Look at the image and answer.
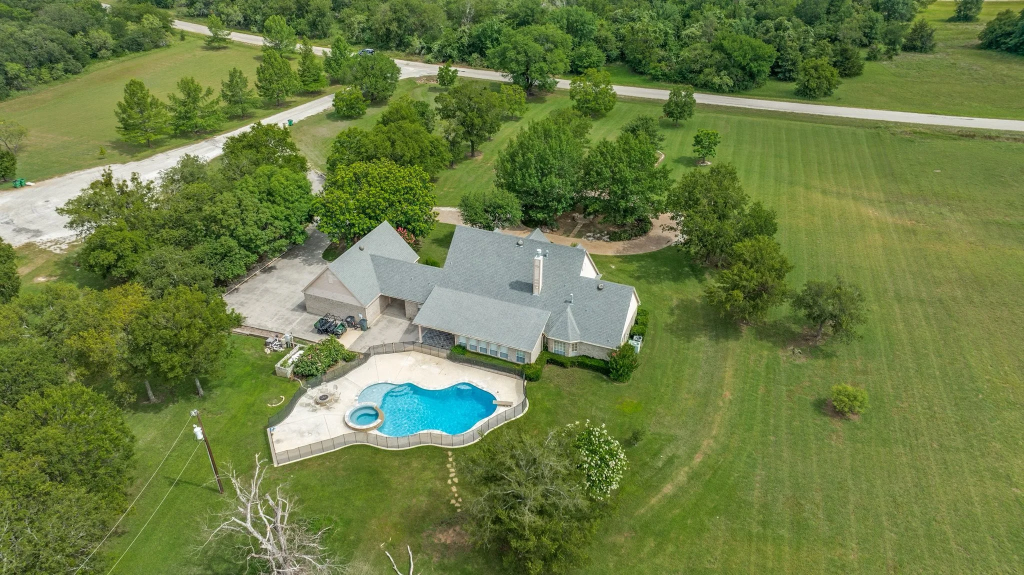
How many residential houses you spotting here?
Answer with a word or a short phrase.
one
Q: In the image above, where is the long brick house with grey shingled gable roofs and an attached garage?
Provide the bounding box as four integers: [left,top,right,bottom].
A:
[300,221,640,366]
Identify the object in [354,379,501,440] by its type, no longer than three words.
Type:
swimming pool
